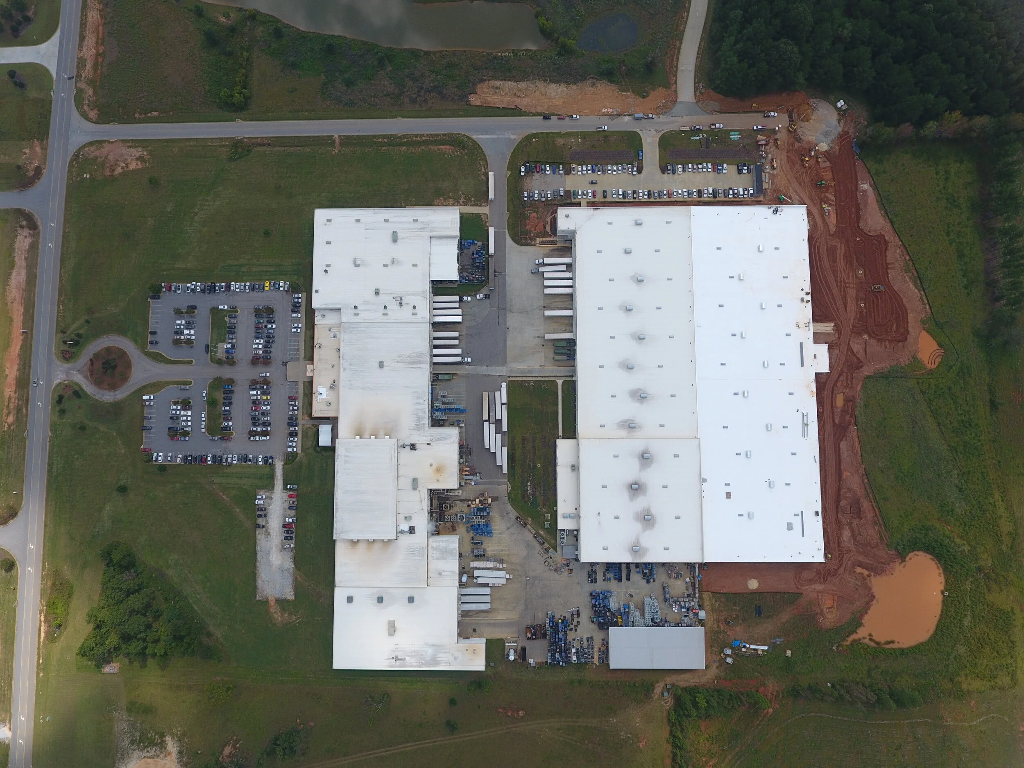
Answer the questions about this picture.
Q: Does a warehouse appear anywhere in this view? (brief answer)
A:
Yes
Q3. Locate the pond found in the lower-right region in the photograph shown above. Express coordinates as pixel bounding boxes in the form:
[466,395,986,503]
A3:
[846,553,944,648]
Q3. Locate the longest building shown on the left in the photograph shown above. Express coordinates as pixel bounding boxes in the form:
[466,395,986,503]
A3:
[306,207,486,671]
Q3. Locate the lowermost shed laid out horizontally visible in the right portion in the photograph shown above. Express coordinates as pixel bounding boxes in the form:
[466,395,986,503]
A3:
[608,624,705,669]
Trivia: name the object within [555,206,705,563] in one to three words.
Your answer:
warehouse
